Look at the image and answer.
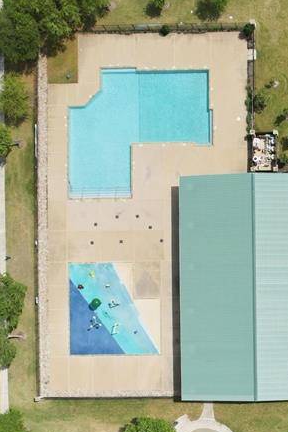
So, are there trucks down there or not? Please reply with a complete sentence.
No, the frame has no truck in it.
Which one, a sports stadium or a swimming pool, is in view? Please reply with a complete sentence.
Of the two, only a swimming pool appears.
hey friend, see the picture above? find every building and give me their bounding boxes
[178,172,288,402]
